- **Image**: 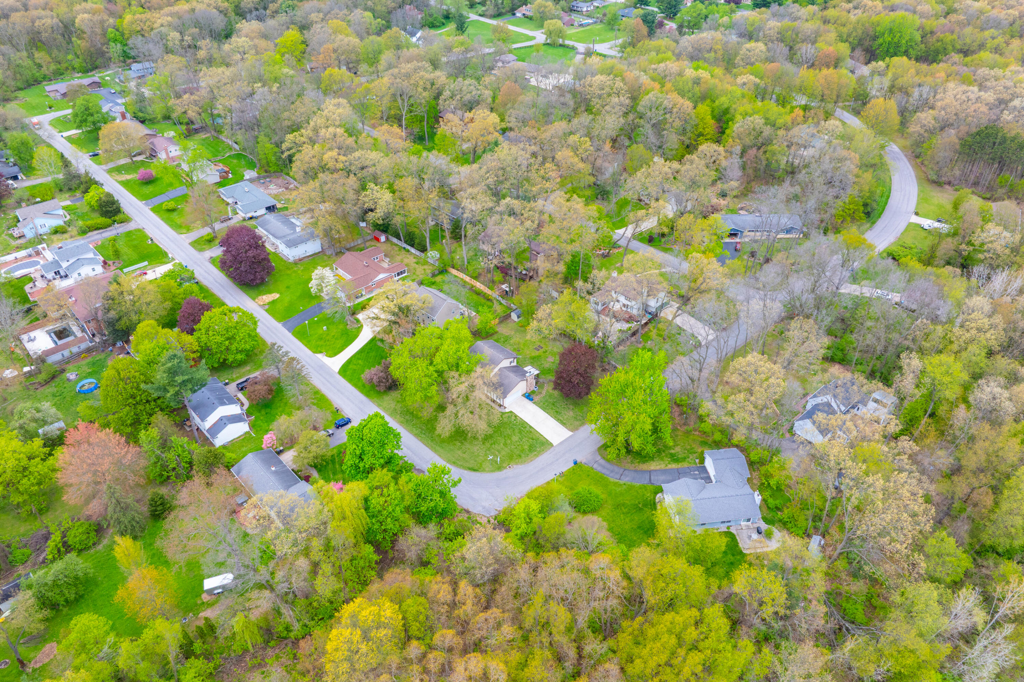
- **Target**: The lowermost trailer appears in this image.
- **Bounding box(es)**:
[200,575,246,600]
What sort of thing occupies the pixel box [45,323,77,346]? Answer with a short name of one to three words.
swimming pool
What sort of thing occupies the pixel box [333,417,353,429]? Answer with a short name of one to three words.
vehicle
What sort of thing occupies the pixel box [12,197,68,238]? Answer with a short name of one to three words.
house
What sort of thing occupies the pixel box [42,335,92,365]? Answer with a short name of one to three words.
building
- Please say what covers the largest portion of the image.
trees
